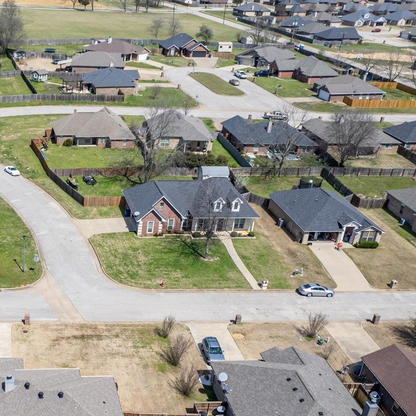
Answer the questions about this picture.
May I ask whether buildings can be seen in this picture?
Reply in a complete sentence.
Yes, I can see a building in this picture.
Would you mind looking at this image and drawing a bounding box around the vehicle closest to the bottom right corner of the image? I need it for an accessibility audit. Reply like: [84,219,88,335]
[297,283,337,298]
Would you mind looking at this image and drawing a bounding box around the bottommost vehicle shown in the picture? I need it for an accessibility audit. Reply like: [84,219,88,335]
[202,335,226,364]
